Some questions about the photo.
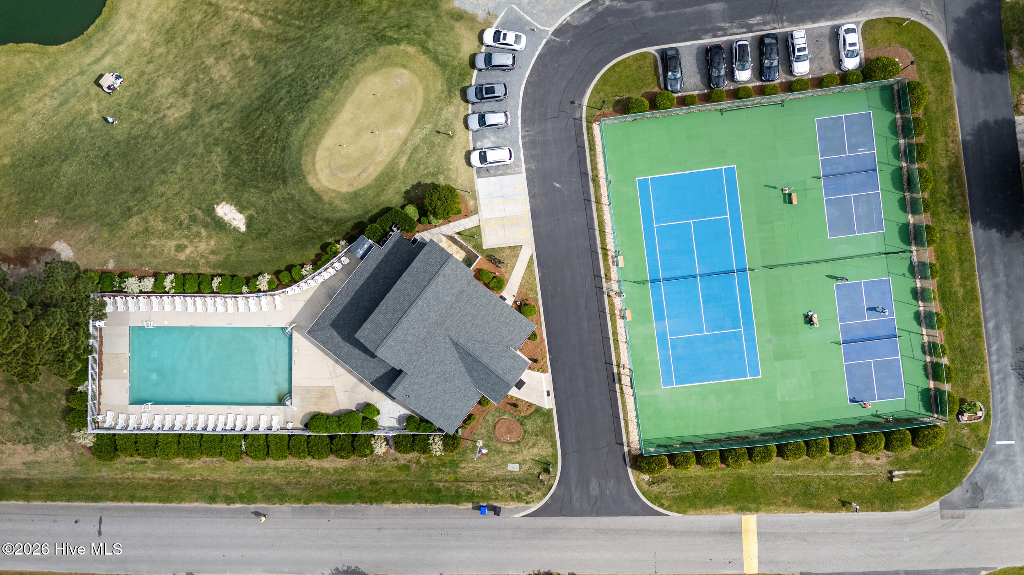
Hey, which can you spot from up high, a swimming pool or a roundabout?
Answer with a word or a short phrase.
swimming pool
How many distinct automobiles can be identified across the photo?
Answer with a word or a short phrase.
11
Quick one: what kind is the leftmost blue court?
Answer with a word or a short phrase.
tennis court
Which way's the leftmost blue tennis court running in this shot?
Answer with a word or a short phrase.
vertically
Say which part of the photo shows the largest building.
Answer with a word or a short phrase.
center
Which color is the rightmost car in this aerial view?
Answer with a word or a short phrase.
white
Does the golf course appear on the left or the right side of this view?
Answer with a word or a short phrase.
left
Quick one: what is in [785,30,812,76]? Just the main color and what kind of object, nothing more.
white car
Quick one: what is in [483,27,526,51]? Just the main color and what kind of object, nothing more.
white car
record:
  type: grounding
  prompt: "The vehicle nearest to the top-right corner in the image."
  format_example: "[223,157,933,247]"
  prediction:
[836,25,861,70]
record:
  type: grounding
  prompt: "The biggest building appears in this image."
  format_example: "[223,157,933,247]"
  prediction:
[305,230,537,434]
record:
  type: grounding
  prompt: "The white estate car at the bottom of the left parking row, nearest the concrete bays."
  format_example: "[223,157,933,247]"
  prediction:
[470,146,513,167]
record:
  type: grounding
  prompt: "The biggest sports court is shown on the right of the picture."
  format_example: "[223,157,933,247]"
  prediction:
[599,86,931,448]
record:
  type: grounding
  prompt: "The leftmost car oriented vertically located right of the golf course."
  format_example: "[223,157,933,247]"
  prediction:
[662,48,685,92]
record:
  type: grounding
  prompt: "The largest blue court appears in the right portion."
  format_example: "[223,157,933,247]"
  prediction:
[637,165,761,388]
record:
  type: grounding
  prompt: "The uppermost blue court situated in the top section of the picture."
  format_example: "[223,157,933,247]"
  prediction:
[816,111,884,238]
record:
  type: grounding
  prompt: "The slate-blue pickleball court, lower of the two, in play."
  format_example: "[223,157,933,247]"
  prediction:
[835,278,905,405]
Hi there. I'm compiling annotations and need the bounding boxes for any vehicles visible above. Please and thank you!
[483,27,526,51]
[98,68,123,94]
[470,146,513,167]
[785,30,812,76]
[836,25,861,70]
[757,34,782,80]
[662,48,685,92]
[467,110,510,131]
[705,45,729,88]
[466,82,508,104]
[730,40,753,82]
[474,50,515,72]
